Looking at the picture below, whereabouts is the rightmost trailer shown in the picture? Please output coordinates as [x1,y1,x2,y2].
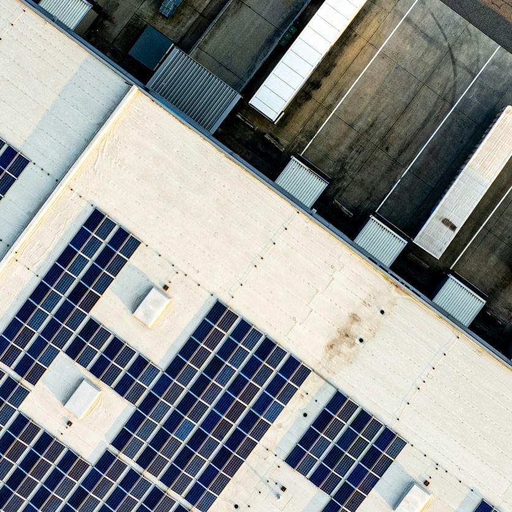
[411,106,512,260]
